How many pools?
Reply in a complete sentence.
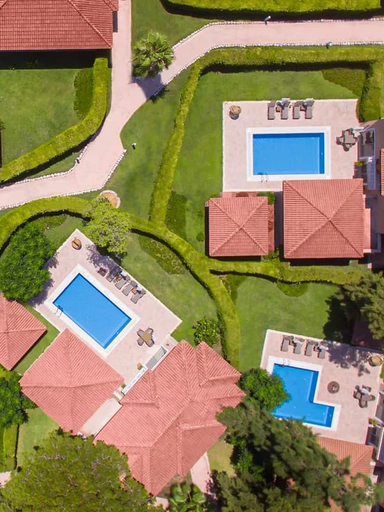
The number of pools here is 3.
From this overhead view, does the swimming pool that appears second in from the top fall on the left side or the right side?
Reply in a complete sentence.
The swimming pool that appears second in from the top is on the left side of the image.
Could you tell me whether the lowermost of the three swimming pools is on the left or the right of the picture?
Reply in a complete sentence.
The lowermost of the three swimming pools appears in the right half of the scene.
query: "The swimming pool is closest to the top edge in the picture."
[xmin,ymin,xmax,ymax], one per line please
[247,127,330,181]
